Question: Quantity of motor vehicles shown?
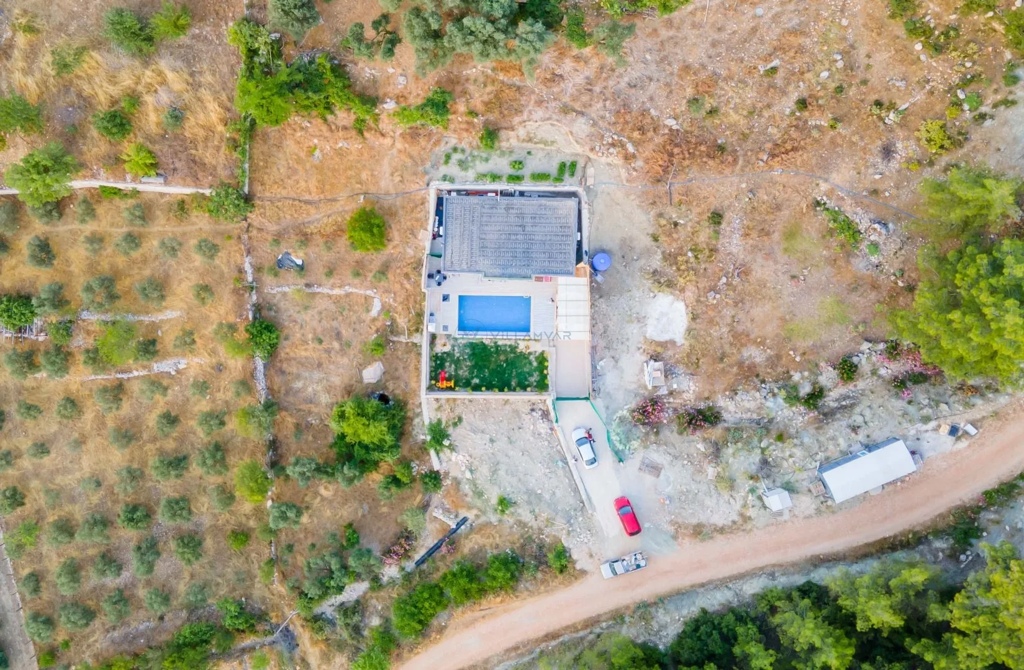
3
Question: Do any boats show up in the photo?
No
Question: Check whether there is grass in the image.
Yes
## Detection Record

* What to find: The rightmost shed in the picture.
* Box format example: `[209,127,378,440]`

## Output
[814,438,915,504]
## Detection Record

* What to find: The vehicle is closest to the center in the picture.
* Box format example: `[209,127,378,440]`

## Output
[571,427,600,473]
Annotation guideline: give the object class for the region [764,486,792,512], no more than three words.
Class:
shed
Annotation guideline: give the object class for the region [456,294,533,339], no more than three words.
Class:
swimming pool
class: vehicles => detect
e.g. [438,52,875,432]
[571,427,600,473]
[616,497,642,540]
[600,554,650,581]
